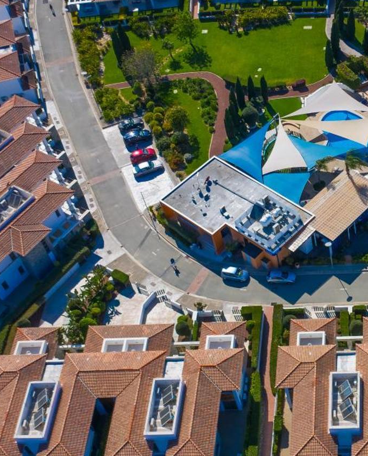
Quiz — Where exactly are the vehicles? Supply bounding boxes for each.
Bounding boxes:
[119,119,144,132]
[130,148,158,163]
[267,269,298,284]
[134,162,163,177]
[220,265,250,282]
[124,130,150,144]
